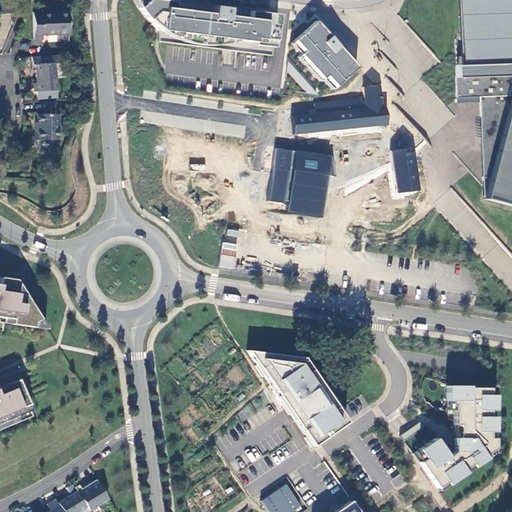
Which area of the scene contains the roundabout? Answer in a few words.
left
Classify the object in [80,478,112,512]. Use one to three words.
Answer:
house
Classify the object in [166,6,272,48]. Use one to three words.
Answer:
building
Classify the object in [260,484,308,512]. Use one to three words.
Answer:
building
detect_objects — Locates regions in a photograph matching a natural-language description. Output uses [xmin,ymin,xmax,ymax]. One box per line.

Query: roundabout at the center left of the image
[72,222,176,326]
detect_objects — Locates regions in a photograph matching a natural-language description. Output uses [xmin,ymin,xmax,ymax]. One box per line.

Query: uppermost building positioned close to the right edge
[458,0,512,65]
